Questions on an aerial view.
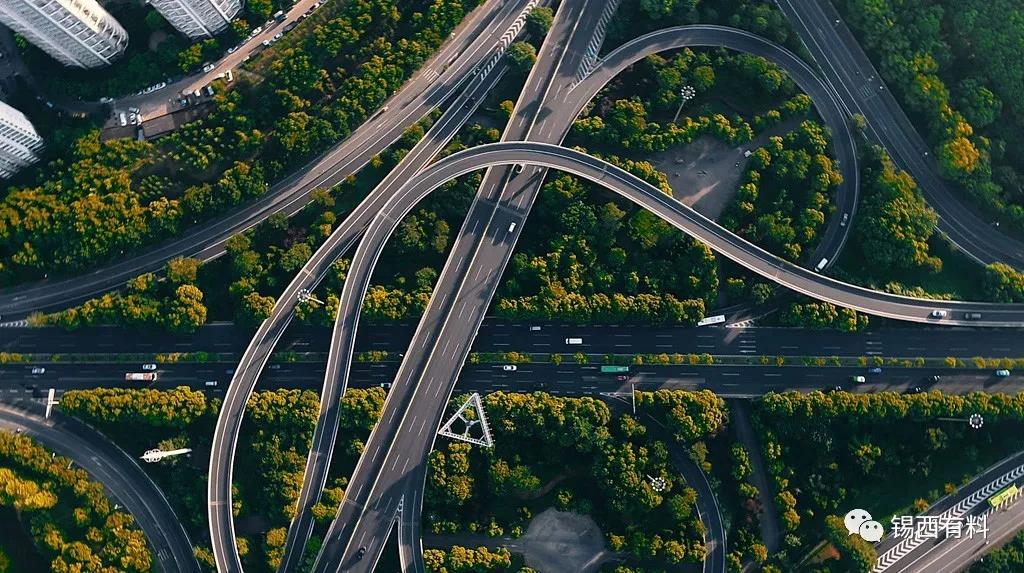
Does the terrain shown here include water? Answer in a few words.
No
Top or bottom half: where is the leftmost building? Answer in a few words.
top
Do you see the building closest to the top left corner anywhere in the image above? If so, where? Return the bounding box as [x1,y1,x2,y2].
[0,0,129,72]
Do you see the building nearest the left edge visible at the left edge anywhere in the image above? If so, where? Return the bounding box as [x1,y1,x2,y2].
[0,102,46,184]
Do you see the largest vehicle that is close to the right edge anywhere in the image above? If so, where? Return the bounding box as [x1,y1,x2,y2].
[989,486,1022,507]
